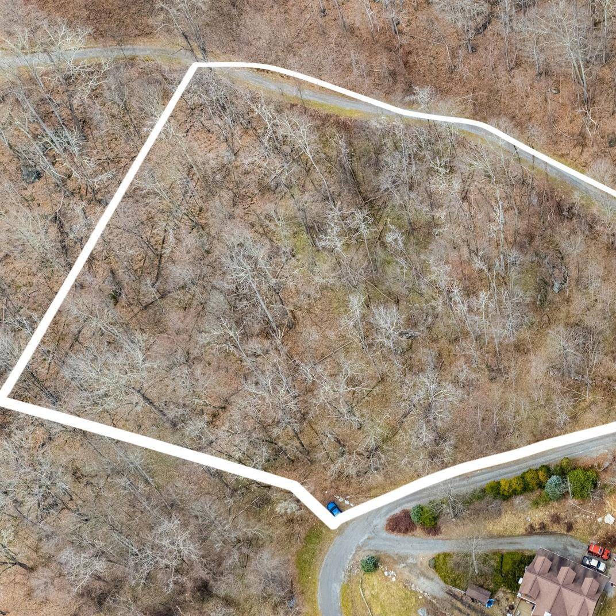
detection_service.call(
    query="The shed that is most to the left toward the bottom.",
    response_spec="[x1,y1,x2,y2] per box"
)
[464,584,492,606]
